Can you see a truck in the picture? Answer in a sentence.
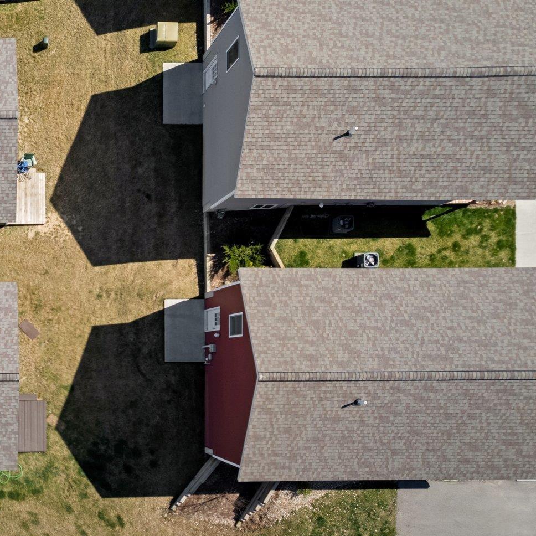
No, no truck can be seen from above.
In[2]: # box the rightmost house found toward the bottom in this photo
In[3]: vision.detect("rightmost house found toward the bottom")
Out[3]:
[204,268,536,480]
